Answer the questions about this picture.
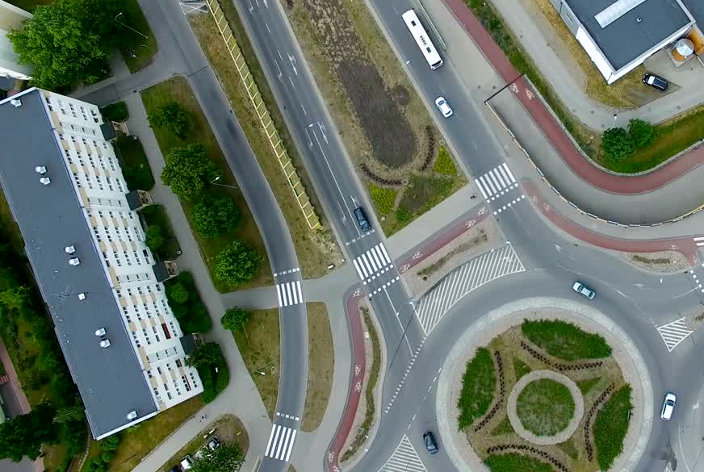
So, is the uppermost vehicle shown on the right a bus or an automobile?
bus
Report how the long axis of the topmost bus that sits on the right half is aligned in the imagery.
diagonally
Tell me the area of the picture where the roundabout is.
bottom right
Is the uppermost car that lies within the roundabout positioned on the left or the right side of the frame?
right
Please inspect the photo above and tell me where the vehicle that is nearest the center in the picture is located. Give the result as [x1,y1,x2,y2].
[353,205,369,232]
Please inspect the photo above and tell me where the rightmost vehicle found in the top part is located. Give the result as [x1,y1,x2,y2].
[641,75,669,91]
